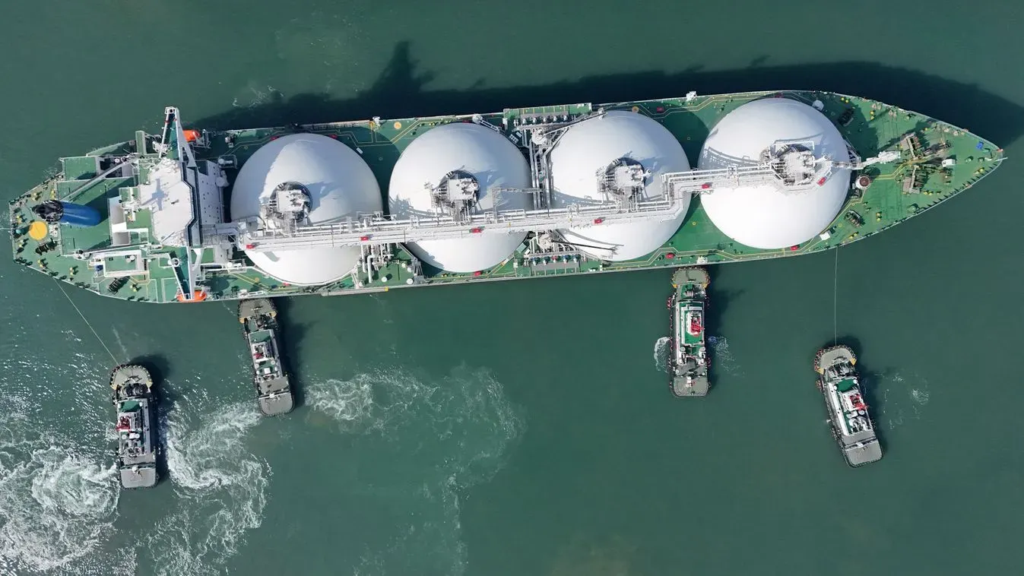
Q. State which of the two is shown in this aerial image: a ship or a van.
ship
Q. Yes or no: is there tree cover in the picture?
No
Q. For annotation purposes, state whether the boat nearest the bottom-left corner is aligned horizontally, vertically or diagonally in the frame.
vertically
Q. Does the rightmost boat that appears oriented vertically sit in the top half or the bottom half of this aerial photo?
bottom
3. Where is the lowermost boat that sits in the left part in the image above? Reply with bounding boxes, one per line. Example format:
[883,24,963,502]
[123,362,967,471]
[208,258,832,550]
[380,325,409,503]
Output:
[110,363,161,489]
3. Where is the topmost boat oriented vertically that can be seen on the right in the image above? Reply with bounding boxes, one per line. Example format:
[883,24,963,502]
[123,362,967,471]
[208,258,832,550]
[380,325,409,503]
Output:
[667,268,713,396]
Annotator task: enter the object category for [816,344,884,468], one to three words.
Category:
boat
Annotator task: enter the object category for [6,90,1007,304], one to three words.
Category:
ship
